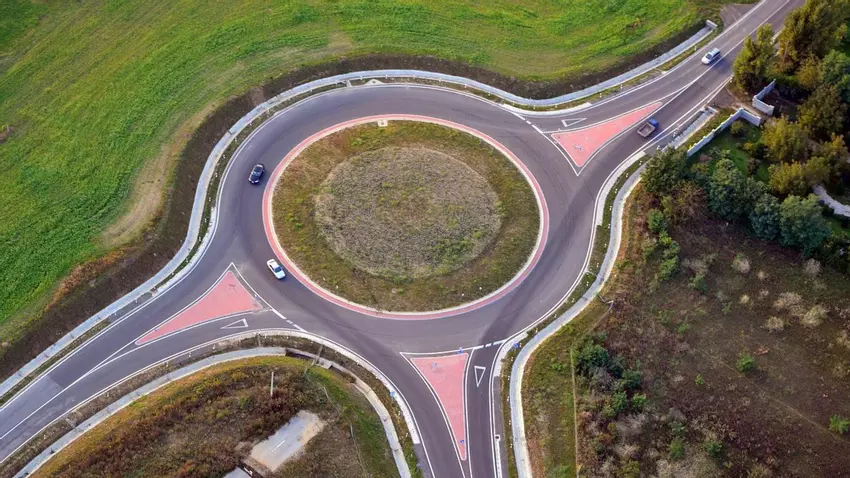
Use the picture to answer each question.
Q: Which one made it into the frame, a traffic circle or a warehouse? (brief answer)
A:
traffic circle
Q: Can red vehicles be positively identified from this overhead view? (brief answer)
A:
No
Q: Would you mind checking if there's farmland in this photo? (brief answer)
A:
Yes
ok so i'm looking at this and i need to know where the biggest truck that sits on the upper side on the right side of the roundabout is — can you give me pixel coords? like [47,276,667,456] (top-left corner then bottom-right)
[636,115,662,138]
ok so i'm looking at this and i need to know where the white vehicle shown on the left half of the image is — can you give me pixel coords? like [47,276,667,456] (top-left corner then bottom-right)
[266,256,286,280]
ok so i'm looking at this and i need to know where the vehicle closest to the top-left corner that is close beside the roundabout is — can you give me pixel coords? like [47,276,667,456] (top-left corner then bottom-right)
[251,162,266,181]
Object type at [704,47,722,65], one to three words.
vehicle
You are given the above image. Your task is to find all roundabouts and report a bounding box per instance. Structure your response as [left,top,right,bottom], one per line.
[262,115,550,320]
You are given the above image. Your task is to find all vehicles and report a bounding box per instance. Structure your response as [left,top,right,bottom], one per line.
[251,162,266,181]
[704,47,722,65]
[636,115,662,138]
[266,256,286,280]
